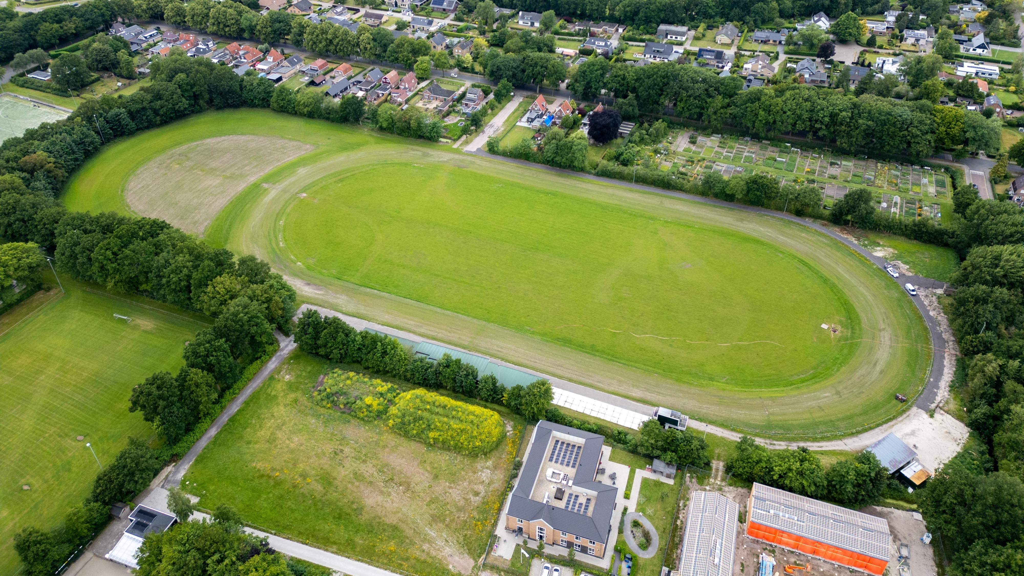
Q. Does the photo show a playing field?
Yes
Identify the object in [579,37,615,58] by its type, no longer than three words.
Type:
house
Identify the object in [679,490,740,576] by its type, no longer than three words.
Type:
house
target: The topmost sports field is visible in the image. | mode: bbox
[0,97,68,140]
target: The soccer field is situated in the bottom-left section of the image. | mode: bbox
[0,285,238,576]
